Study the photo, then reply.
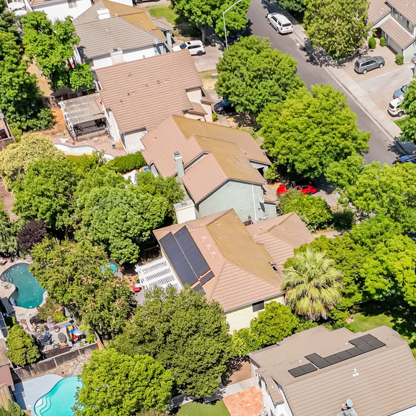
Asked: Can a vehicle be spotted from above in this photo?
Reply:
Yes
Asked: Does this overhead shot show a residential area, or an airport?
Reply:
residential area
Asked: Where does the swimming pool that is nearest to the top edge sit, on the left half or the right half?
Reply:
left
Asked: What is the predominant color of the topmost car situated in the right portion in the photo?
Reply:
white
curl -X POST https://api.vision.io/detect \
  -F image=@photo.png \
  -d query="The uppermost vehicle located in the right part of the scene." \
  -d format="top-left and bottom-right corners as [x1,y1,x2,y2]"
[267,12,293,32]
